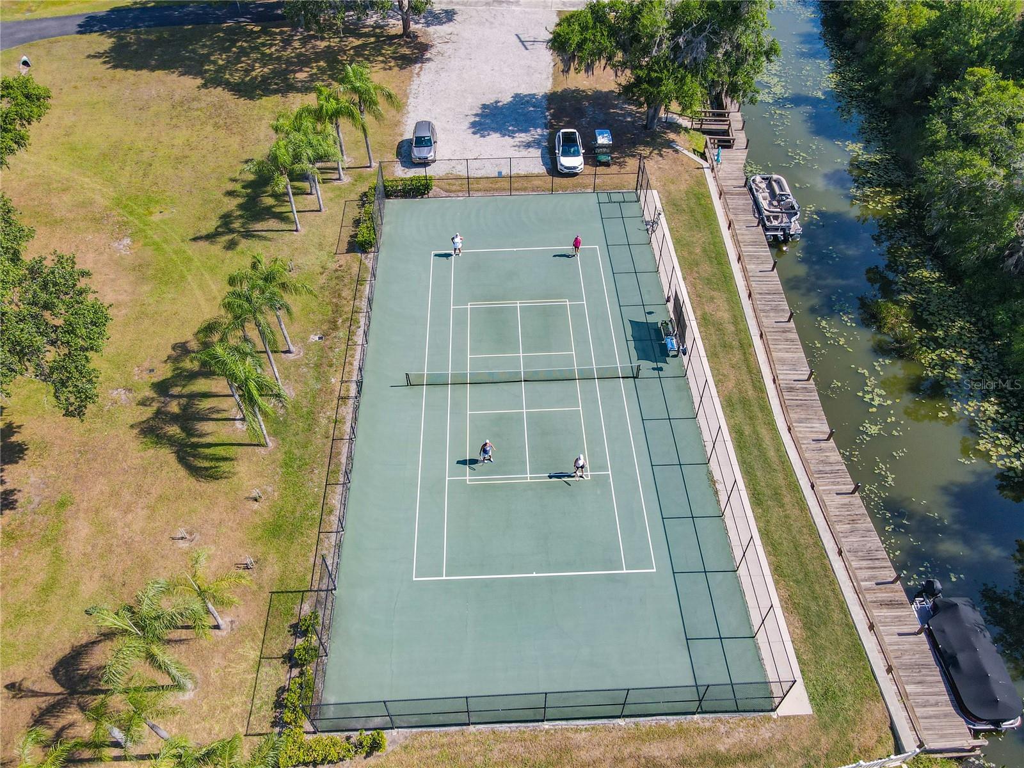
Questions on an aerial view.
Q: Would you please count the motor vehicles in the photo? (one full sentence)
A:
In total, 3 motor vehicles can be seen.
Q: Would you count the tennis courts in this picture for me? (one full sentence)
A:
In total, 1 tennis court can be seen.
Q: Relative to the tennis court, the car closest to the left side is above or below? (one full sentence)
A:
You can see the car closest to the left side above the tennis court in the frame.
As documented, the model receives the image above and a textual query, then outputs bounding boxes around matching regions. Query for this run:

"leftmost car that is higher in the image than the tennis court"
[407,117,436,161]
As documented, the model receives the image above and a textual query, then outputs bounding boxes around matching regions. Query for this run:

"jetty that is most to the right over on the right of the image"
[703,82,991,763]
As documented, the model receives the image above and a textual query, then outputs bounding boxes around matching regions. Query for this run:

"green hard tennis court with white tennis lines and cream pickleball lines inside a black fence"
[308,189,776,739]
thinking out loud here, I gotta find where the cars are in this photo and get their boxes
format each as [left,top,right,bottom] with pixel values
[407,117,436,161]
[554,125,586,173]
